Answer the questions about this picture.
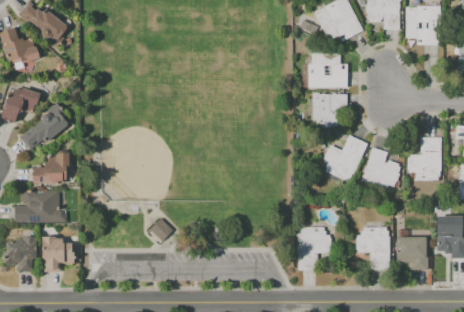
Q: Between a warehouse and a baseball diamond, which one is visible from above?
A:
baseball diamond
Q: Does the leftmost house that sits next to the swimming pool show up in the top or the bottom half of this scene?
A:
bottom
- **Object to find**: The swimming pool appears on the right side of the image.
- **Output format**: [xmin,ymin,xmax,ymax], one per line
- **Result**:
[320,208,339,226]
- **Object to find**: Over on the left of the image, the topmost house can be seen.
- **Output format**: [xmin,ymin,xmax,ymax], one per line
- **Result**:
[18,0,72,44]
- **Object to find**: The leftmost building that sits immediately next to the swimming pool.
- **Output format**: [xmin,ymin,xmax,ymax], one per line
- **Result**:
[300,226,332,270]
